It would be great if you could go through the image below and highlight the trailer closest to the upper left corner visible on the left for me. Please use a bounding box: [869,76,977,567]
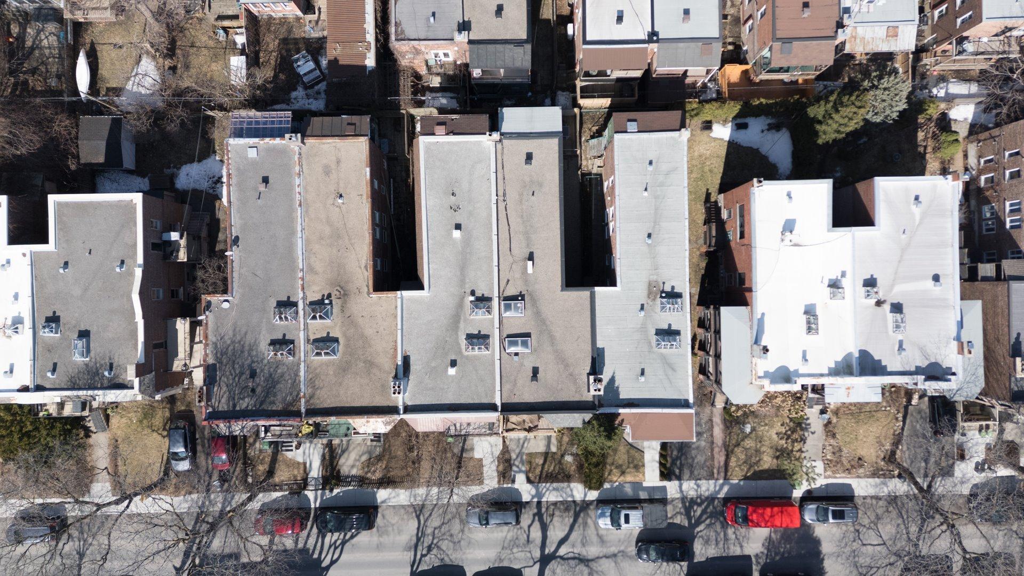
[287,45,325,91]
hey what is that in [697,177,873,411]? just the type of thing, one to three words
house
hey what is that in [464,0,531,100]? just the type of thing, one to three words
house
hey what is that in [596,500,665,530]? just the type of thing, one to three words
truck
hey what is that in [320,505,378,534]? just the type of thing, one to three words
car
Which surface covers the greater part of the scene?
buildings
